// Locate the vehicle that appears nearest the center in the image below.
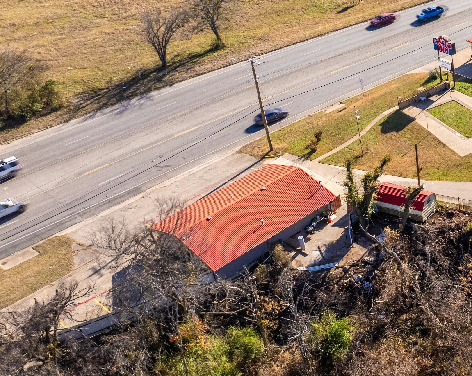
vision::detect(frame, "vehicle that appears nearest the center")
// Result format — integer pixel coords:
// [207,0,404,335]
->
[253,109,289,128]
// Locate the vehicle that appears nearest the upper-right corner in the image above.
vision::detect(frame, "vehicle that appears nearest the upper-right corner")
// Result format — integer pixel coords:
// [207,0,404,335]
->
[416,5,448,22]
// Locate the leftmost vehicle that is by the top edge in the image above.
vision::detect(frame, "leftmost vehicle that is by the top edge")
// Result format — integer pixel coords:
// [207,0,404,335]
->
[371,13,396,27]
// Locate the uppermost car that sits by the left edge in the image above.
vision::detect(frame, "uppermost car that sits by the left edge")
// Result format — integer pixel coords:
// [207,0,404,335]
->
[0,154,23,177]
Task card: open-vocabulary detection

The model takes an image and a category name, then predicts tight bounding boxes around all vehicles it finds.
[0,199,29,222]
[253,109,289,128]
[371,13,396,27]
[0,154,23,177]
[416,5,448,22]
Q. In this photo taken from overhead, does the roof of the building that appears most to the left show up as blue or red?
red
